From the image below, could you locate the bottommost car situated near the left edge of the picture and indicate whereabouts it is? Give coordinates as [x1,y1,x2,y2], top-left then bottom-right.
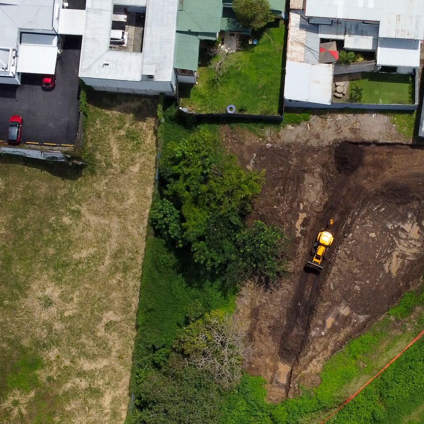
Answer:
[8,115,24,145]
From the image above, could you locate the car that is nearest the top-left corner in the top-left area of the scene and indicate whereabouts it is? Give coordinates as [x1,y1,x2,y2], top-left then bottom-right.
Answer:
[41,73,56,93]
